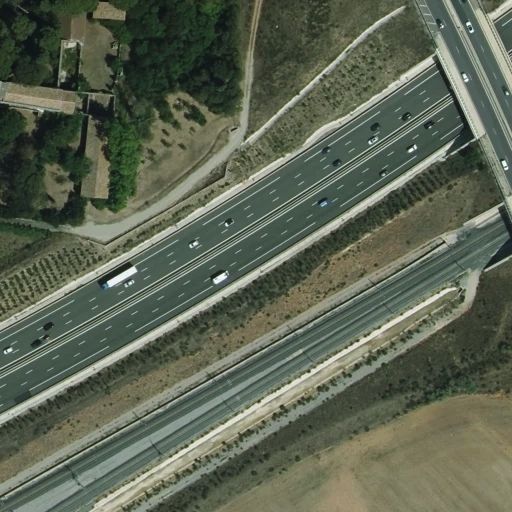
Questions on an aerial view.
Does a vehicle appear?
Yes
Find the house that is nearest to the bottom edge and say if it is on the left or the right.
left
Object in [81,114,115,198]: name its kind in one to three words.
house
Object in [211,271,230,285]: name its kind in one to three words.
vehicle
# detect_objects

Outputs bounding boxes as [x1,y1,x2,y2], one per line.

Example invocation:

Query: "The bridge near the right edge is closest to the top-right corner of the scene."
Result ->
[436,17,512,140]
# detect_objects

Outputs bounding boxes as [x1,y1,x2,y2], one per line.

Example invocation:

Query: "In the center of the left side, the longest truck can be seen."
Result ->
[100,266,136,291]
